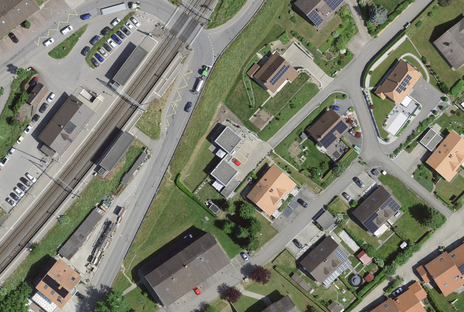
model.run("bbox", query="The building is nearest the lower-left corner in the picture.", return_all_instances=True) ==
[32,260,82,312]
